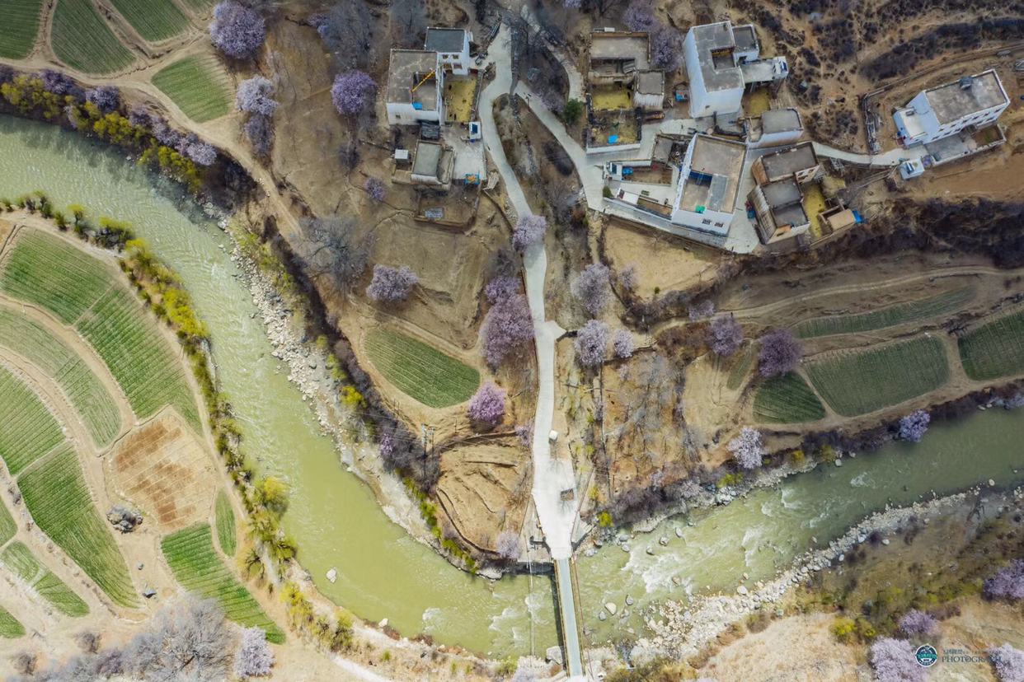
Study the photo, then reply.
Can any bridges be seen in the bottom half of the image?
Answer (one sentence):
Yes, a bridge can be seen in the bottom half of the image.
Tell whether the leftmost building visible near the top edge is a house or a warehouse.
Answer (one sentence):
The leftmost building visible near the top edge can be classified as a house.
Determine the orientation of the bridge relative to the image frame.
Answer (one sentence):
I'd say the bridge is aligned vertically in the picture.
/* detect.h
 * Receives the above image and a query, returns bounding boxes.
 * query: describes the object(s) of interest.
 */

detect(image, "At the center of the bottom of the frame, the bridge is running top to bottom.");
[551,555,591,681]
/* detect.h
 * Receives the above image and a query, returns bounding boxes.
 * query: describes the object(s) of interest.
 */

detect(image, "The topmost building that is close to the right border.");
[889,69,1010,150]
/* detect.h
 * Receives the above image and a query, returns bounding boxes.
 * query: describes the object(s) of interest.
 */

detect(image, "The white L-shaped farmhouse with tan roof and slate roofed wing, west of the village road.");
[386,28,469,132]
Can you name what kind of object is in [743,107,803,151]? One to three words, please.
barn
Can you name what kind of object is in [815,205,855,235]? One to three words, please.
shed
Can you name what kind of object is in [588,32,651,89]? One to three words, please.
house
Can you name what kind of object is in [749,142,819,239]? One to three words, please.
house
